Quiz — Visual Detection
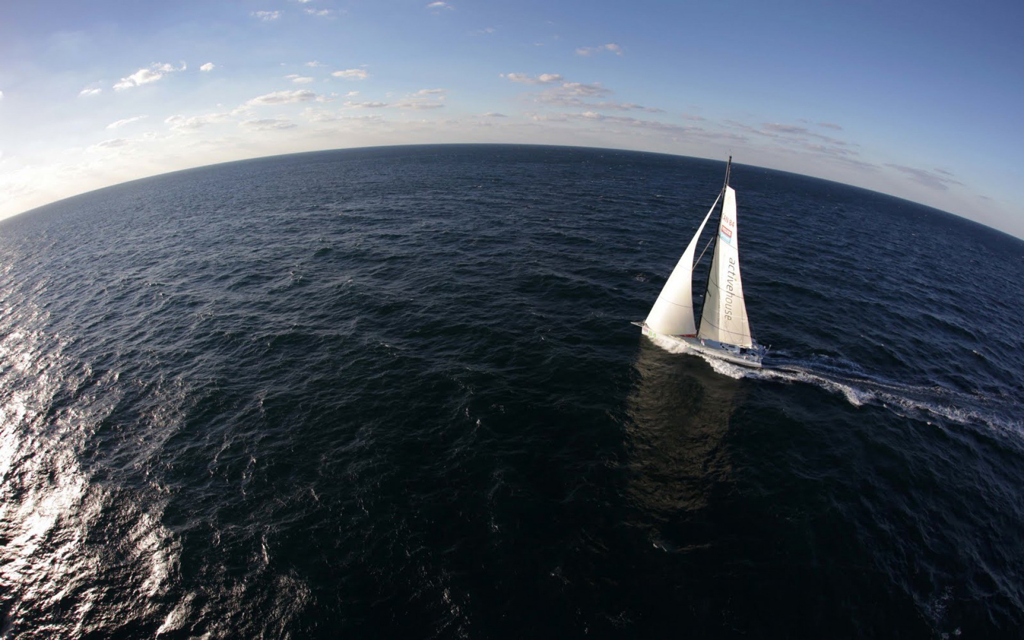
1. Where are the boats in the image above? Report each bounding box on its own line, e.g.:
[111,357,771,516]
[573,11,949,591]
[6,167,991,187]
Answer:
[631,146,771,367]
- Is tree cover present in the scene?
No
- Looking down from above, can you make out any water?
Yes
